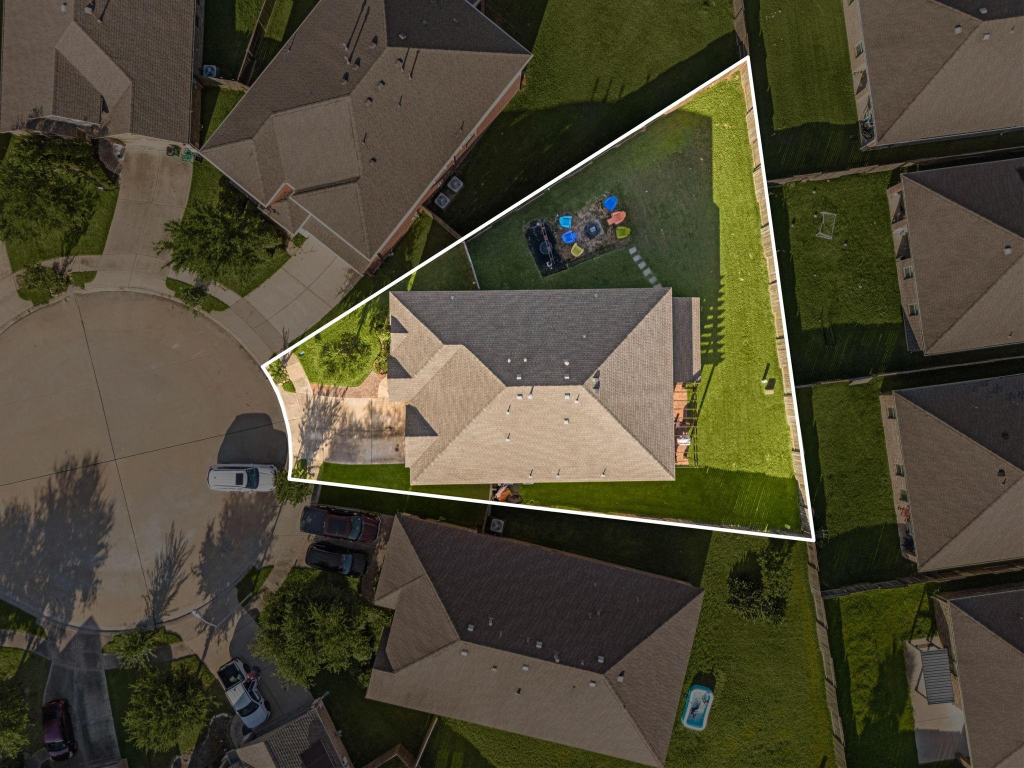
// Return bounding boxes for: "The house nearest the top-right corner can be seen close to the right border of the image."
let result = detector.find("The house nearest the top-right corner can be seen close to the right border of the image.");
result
[844,0,1024,150]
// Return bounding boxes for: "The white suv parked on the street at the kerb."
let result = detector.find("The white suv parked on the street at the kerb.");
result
[207,462,278,494]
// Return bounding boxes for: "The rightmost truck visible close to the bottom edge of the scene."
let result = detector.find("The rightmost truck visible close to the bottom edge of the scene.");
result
[214,651,275,730]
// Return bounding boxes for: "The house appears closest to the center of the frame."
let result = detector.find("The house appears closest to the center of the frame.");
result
[388,287,677,486]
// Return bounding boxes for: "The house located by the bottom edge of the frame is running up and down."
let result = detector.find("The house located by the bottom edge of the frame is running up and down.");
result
[934,582,1024,768]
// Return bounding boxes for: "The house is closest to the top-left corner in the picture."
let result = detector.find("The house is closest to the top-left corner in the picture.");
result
[0,0,206,160]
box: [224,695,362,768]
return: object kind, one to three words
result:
house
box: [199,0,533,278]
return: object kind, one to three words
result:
house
